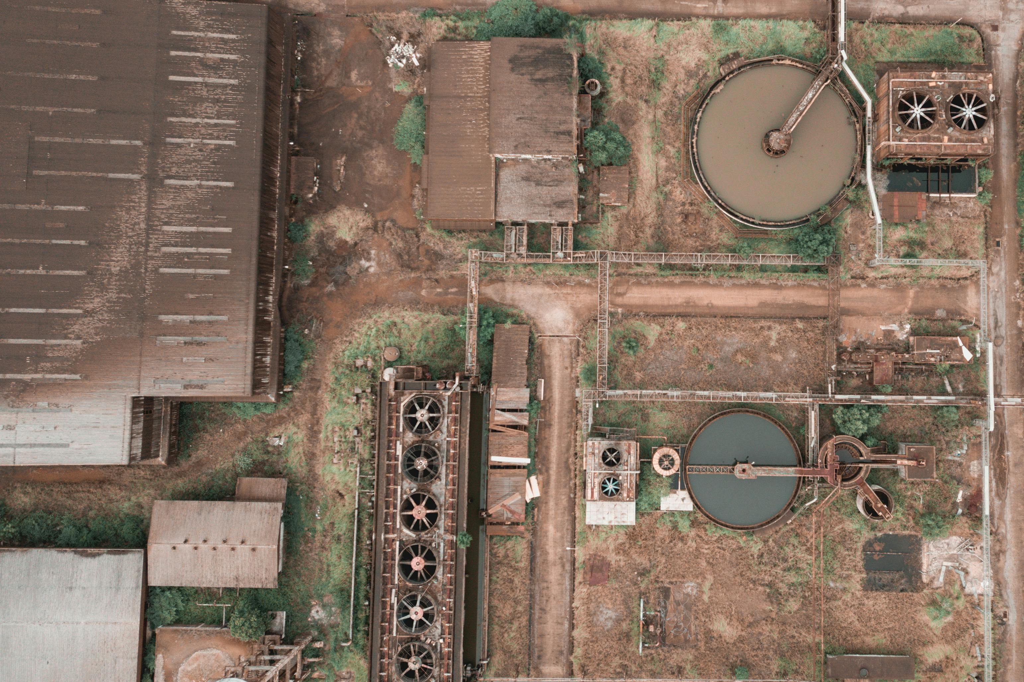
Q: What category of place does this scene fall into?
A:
industrial area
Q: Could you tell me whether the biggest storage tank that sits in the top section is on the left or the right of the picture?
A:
right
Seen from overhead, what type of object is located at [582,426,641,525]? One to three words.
cooling tower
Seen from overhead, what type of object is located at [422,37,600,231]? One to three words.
building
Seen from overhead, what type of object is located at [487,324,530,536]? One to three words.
shed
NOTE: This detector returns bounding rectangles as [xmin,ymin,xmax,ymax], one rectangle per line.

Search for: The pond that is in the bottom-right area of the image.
[863,534,922,592]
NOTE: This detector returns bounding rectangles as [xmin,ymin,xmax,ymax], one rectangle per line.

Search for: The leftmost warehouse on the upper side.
[0,0,296,466]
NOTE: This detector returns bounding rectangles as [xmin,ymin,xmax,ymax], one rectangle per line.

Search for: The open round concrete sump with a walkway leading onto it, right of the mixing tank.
[849,477,894,521]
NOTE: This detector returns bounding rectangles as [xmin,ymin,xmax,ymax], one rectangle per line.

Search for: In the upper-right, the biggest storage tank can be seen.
[683,49,863,240]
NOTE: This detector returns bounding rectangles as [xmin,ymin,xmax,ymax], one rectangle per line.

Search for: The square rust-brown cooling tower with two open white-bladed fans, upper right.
[873,62,999,164]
